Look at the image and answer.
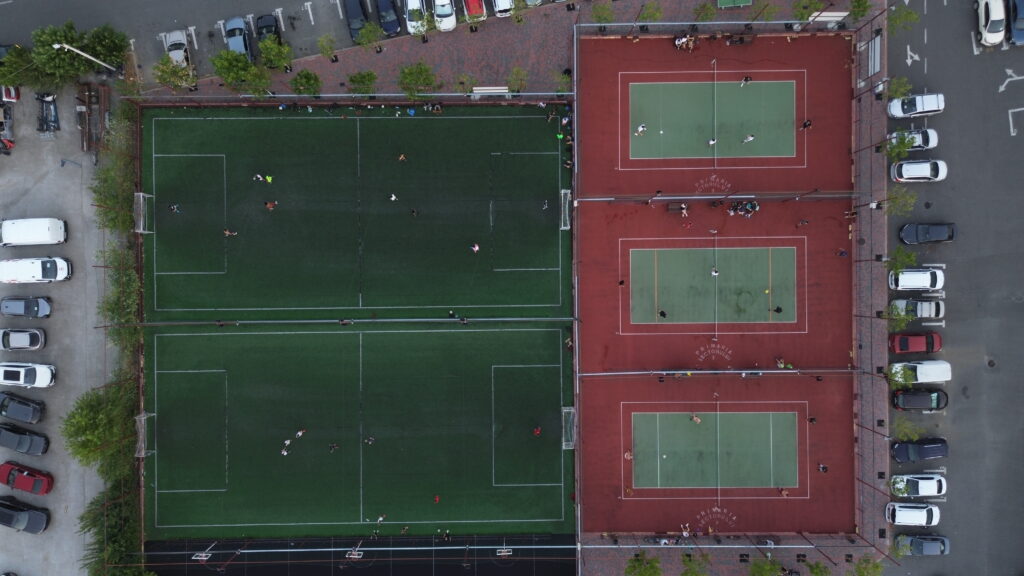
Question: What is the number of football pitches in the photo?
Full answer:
In total, 2 football pitches can be seen.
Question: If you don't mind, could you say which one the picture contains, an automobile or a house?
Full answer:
Visible in the photo is an automobile.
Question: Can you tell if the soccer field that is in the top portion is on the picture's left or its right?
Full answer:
The soccer field that is in the top portion appears in the left half of the scene.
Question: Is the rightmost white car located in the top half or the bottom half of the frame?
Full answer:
The rightmost white car sits in the top half of the picture.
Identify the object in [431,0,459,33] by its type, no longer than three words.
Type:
car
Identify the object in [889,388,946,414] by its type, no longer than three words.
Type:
car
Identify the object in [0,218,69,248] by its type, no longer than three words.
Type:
vehicle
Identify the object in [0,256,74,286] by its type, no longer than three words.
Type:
vehicle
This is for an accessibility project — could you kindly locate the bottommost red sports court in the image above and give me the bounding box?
[580,371,856,534]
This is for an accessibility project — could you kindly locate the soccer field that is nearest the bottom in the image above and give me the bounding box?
[143,318,573,541]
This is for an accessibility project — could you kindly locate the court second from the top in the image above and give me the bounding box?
[579,197,854,371]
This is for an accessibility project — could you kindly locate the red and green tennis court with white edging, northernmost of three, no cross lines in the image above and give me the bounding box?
[579,35,852,198]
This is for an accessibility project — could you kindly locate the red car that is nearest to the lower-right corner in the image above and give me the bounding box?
[885,330,942,357]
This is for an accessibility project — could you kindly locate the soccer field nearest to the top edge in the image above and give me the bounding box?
[140,103,573,323]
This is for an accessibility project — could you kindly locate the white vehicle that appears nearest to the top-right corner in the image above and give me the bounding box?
[972,0,1009,49]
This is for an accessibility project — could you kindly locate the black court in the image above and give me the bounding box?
[147,535,573,576]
